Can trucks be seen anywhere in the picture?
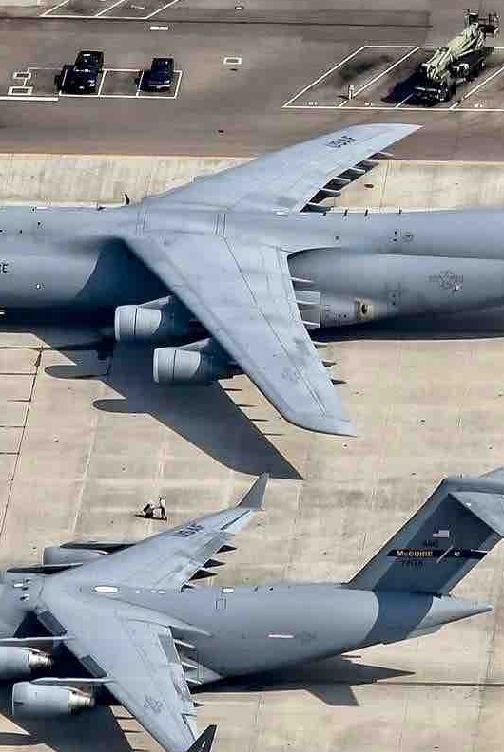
Yes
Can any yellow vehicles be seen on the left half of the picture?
No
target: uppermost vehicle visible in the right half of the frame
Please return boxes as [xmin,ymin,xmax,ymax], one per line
[420,4,498,105]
